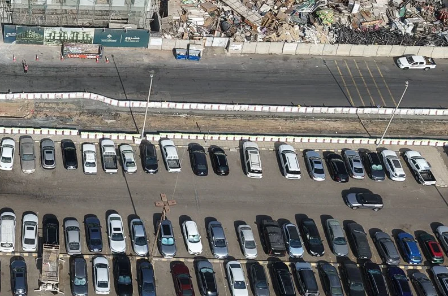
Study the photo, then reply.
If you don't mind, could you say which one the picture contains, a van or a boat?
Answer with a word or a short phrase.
van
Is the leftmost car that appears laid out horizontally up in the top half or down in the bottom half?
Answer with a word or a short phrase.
bottom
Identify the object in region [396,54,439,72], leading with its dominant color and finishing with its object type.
white vehicle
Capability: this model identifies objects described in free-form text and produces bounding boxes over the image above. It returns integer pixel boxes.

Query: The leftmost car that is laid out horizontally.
[342,190,388,212]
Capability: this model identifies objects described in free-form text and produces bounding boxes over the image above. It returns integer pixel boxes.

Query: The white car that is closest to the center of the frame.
[241,142,266,179]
